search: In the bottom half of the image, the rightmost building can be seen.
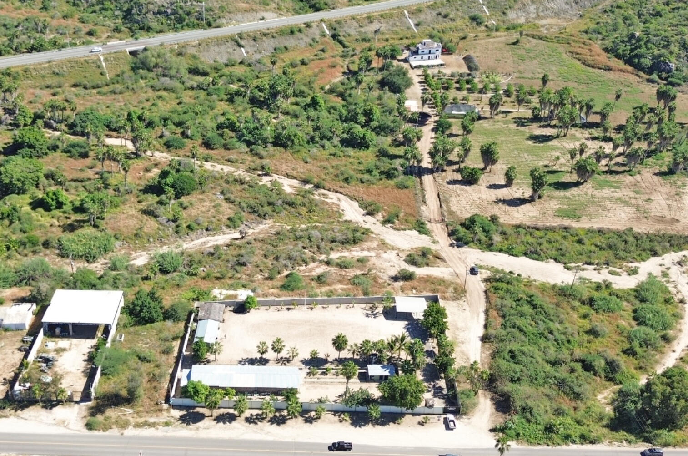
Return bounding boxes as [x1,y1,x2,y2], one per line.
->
[395,297,426,321]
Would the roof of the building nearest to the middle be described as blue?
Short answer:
No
